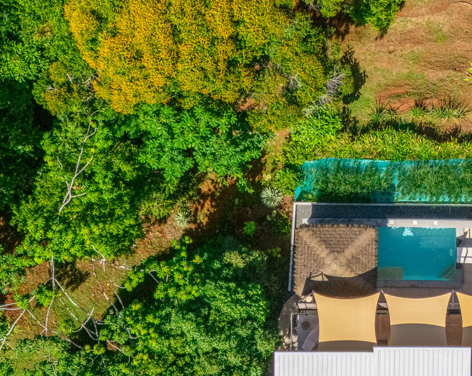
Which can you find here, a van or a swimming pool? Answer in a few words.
swimming pool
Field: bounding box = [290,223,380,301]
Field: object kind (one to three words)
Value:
shed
